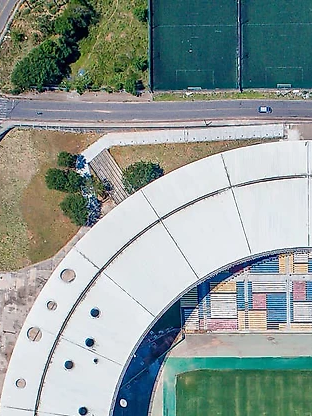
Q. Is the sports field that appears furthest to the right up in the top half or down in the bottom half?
top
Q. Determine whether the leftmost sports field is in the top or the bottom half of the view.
top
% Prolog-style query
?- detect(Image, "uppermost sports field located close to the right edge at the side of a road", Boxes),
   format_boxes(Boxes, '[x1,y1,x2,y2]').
[243,0,312,87]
